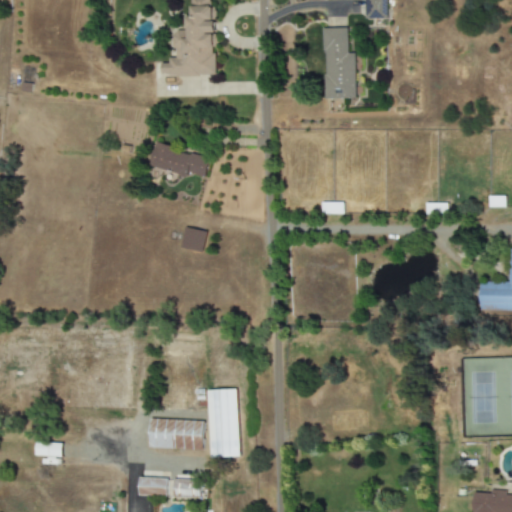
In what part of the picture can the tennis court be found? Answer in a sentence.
The tennis court sits in the bottom right section of the image.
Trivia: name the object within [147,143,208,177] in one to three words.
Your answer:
house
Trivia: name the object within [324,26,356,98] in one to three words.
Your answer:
house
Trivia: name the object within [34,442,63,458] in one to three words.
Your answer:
building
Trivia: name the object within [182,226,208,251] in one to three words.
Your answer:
barn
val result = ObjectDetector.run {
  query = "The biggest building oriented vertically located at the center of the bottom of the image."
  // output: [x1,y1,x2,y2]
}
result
[208,388,240,458]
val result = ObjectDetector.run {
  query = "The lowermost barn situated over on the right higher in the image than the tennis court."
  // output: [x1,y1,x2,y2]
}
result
[480,232,512,310]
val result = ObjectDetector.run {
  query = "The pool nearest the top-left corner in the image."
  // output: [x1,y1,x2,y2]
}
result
[135,20,154,46]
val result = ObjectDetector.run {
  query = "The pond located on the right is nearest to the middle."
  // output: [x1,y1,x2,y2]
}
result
[376,252,438,306]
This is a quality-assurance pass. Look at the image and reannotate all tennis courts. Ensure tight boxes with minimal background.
[462,356,512,438]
